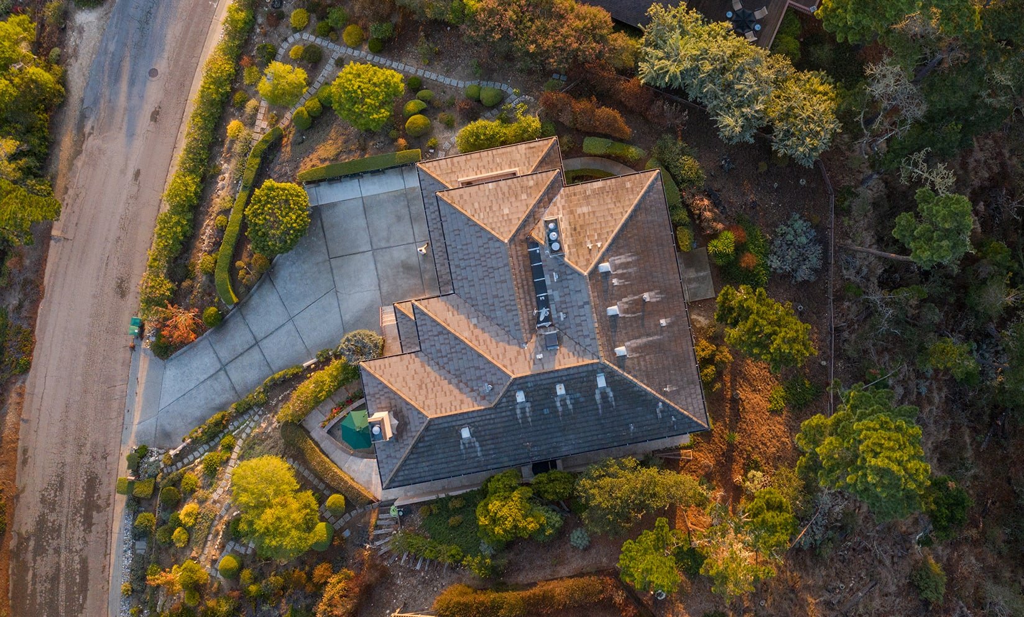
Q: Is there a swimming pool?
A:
No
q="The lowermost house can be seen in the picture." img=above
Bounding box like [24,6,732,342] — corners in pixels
[357,135,711,491]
